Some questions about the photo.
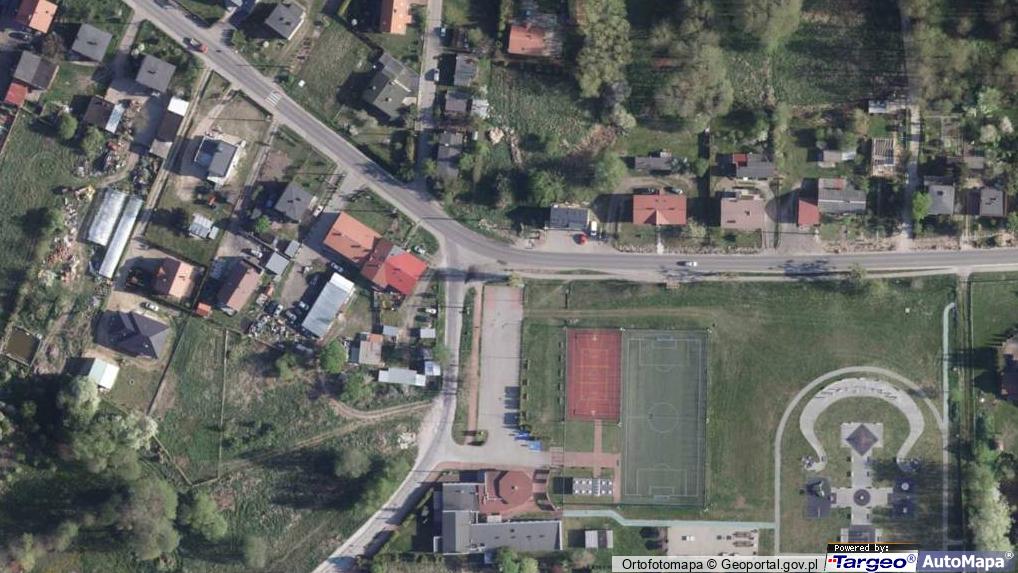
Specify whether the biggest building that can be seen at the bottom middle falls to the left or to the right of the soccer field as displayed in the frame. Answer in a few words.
left of it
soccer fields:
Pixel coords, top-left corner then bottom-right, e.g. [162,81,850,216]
[620,329,707,505]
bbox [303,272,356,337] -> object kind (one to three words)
building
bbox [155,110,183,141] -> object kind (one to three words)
shed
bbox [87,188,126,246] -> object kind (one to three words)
greenhouse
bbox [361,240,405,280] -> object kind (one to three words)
house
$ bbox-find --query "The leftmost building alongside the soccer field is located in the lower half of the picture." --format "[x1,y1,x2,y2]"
[432,471,563,554]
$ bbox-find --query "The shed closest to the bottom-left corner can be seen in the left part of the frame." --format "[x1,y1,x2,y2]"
[89,358,119,389]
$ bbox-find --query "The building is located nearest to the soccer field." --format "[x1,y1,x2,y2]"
[573,478,614,494]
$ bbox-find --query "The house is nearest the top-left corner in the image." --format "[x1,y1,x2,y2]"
[16,0,59,33]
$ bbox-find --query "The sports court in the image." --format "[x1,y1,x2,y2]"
[567,330,621,422]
